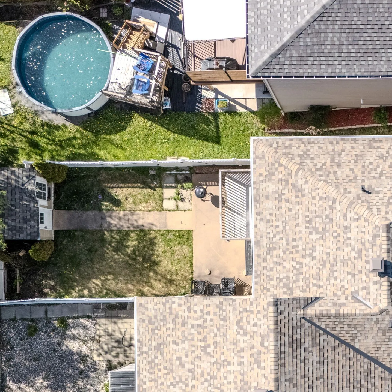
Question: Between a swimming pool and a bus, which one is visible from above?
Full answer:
There is a swimming pool in the scene.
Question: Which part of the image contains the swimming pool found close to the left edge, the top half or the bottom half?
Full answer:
It is in the top half that the swimming pool found close to the left edge appears.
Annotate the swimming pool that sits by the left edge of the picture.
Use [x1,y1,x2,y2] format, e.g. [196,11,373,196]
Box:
[11,10,120,118]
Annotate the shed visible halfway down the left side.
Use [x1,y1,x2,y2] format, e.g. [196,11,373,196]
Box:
[0,169,54,239]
